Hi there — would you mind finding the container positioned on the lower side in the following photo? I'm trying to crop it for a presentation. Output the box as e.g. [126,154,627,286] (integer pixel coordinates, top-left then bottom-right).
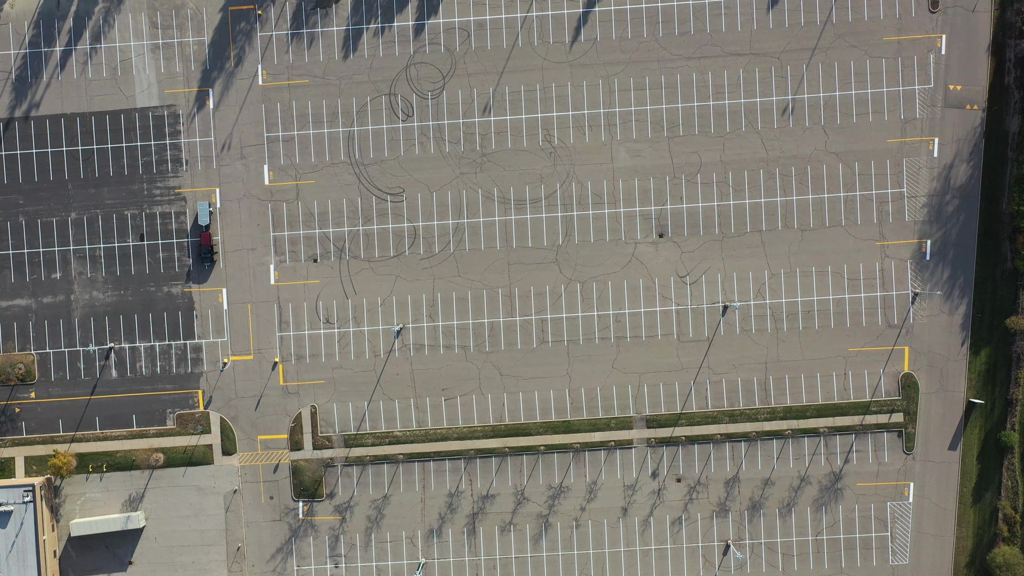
[69,511,144,536]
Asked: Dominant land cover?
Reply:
paved ground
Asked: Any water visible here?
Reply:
No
